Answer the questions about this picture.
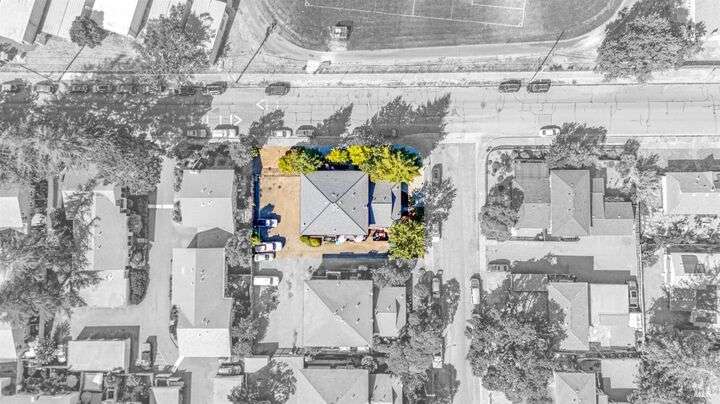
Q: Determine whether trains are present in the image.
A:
No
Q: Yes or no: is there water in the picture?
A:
No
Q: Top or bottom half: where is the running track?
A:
top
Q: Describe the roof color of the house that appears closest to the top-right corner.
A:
white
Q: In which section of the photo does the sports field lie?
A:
top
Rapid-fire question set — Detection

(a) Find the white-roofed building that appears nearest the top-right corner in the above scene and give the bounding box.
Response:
[657,171,720,216]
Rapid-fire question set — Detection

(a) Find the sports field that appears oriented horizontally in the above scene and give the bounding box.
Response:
[232,0,634,64]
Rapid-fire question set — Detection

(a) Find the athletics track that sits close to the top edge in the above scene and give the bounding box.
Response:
[232,0,634,64]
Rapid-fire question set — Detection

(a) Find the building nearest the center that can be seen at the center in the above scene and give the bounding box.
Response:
[299,169,401,237]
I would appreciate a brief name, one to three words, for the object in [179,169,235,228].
house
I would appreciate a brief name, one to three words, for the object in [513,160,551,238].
house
